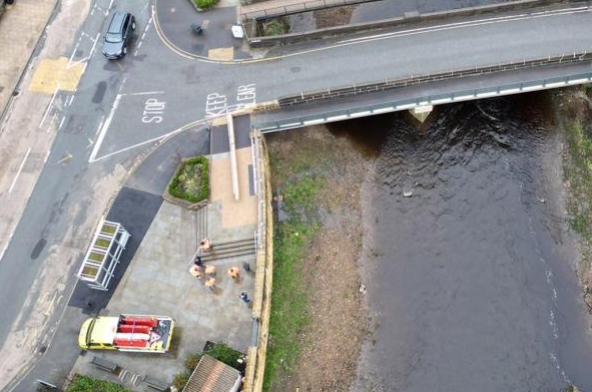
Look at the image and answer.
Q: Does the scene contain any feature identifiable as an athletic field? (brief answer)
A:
No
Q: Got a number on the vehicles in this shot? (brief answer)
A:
2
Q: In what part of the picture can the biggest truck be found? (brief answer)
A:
bottom left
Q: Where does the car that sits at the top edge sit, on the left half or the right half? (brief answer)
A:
left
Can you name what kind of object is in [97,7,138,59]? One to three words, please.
car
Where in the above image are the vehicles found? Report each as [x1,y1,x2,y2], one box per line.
[71,309,172,355]
[97,7,138,59]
